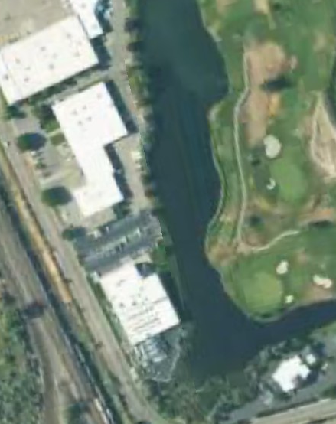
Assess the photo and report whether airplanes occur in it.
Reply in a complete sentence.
No, no airplane can be seen from above.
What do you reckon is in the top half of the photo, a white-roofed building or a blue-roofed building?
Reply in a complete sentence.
Visible in the top half of the photo is a white-roofed building.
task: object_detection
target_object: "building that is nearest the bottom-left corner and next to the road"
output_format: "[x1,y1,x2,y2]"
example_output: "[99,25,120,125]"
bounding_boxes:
[99,261,179,346]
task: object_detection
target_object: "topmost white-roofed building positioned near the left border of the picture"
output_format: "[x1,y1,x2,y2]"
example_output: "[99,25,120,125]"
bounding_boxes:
[0,16,98,104]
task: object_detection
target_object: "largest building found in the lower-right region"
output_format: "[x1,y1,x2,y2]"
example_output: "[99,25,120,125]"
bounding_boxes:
[274,356,310,393]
